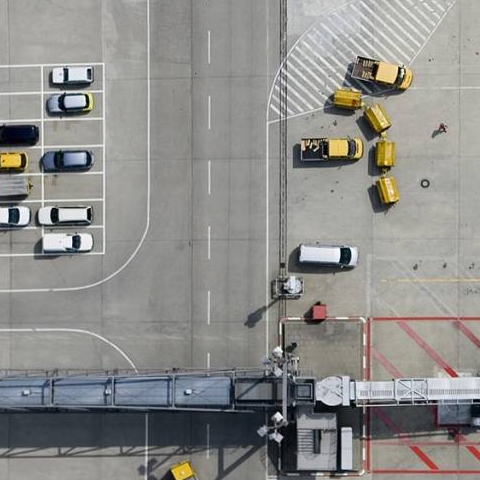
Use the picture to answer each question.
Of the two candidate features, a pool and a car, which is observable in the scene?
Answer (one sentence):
There is a car in the scene.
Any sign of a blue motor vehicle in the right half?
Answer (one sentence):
No, looking in the right half, there is no blue motor vehicle.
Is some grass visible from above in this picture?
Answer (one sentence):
No, the scene doesn't show any grass.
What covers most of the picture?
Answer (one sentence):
The scene is dominated by paved ground.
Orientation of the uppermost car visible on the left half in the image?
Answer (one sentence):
I'd say the uppermost car visible on the left half is aligned horizontally in the picture.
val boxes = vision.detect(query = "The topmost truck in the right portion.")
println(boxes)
[348,55,413,90]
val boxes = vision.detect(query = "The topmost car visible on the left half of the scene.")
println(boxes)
[50,64,94,86]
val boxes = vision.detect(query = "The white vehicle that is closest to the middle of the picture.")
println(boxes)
[299,243,358,270]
